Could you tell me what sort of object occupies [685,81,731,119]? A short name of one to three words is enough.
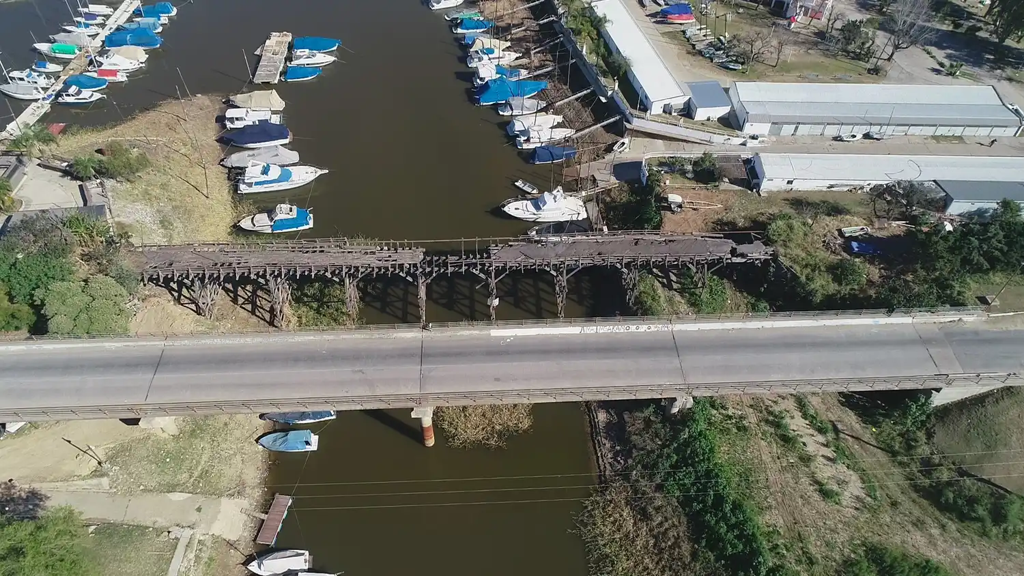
shed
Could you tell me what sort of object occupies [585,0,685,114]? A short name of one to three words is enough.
building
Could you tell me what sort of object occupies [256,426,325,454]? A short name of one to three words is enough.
boat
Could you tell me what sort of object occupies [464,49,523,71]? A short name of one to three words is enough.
boat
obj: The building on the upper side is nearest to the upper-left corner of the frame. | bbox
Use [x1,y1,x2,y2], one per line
[0,155,30,207]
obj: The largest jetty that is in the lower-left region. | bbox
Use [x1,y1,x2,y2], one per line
[238,495,294,546]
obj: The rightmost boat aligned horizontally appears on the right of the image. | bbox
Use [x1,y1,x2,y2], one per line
[841,223,872,237]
